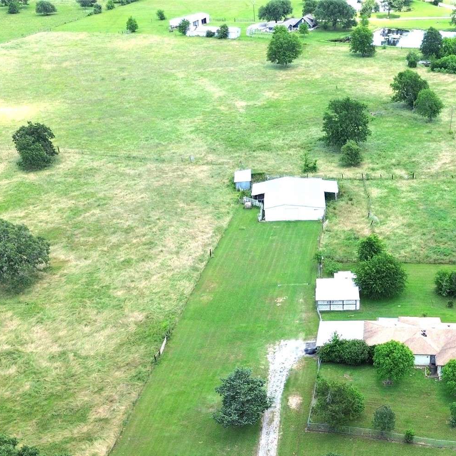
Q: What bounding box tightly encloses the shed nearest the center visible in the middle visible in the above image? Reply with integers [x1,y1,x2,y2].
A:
[234,169,253,191]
